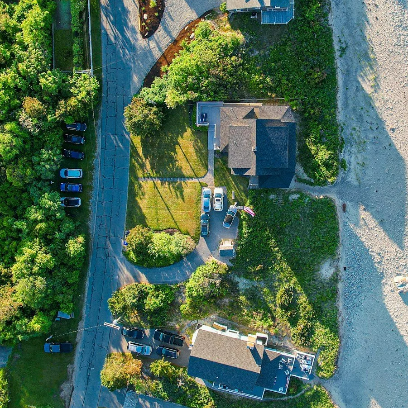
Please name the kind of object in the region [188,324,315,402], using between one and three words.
house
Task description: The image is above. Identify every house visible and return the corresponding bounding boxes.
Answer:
[196,102,295,190]
[188,324,315,402]
[227,0,294,25]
